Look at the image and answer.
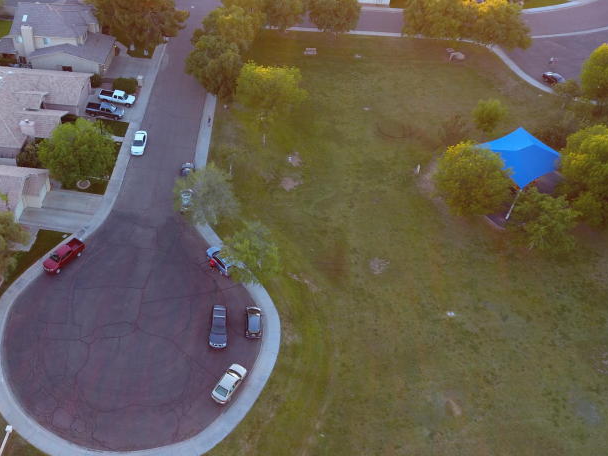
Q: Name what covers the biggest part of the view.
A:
grass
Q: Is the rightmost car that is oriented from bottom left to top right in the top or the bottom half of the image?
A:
bottom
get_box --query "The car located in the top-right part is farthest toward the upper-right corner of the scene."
[540,69,569,84]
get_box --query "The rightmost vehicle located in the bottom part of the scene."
[246,306,263,337]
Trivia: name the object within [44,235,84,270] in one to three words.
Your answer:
truck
